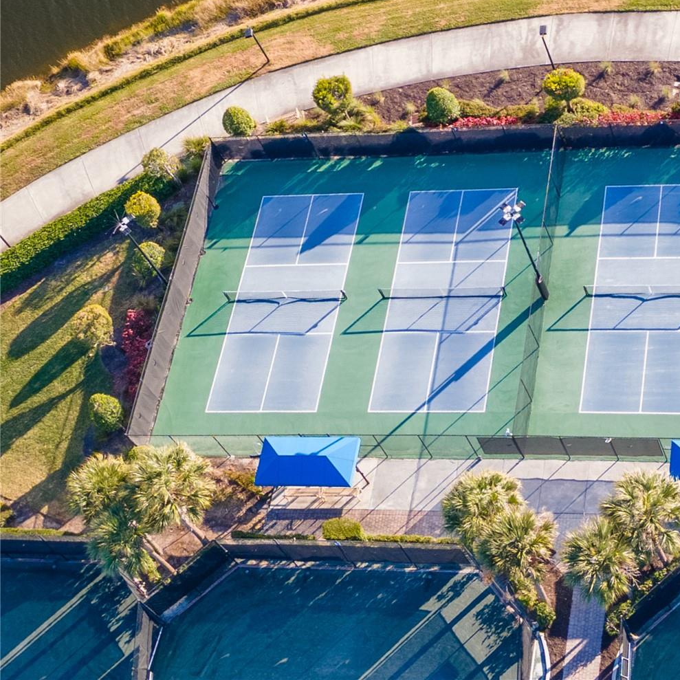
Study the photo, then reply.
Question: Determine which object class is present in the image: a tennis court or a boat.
tennis court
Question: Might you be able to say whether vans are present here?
No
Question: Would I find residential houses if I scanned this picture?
No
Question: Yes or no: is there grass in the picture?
Yes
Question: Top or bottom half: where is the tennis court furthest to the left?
bottom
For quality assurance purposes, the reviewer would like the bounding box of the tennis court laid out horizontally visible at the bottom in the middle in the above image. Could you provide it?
[154,565,526,680]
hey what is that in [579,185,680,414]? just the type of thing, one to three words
sports court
